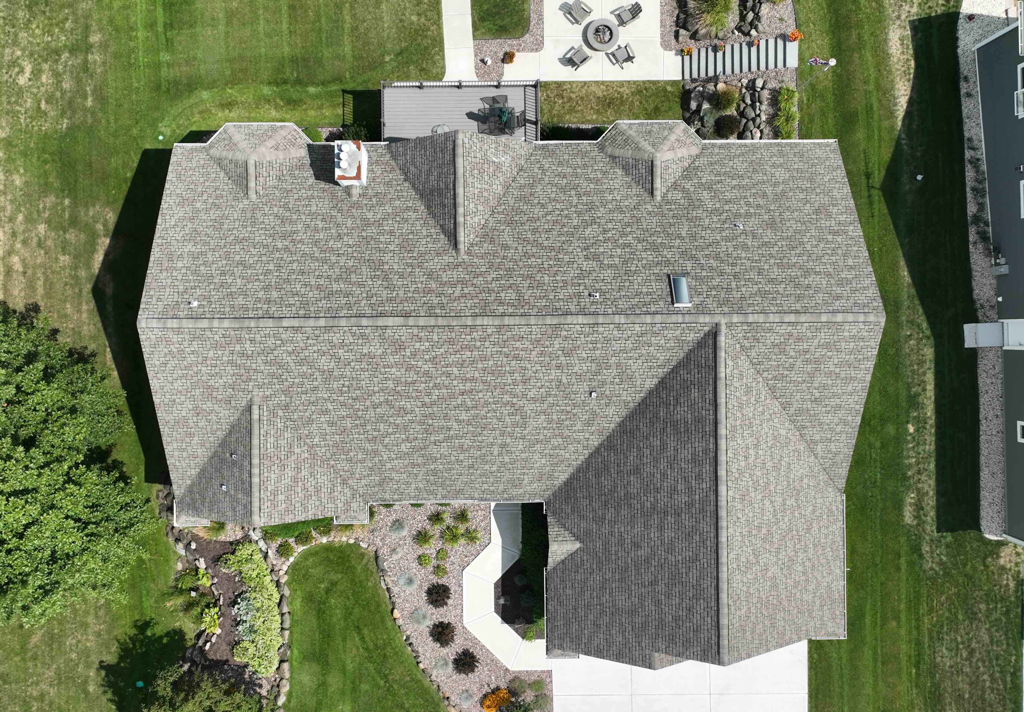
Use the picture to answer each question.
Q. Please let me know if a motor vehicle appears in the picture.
No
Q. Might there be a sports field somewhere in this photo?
No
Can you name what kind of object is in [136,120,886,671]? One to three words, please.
house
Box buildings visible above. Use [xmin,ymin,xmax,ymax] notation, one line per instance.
[136,120,886,671]
[975,10,1024,543]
